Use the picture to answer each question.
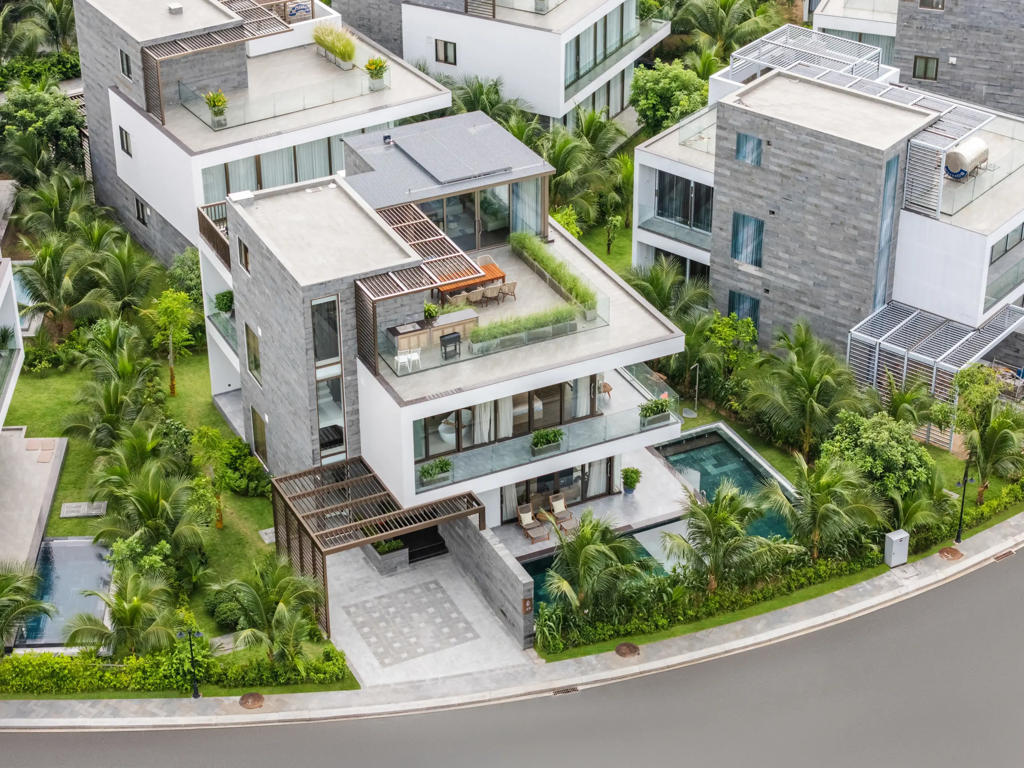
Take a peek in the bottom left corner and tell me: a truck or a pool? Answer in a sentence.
You can see a pool in the bottom left corner.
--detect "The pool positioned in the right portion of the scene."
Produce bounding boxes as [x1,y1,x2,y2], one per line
[521,424,833,625]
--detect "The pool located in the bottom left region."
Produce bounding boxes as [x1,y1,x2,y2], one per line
[1,533,133,670]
